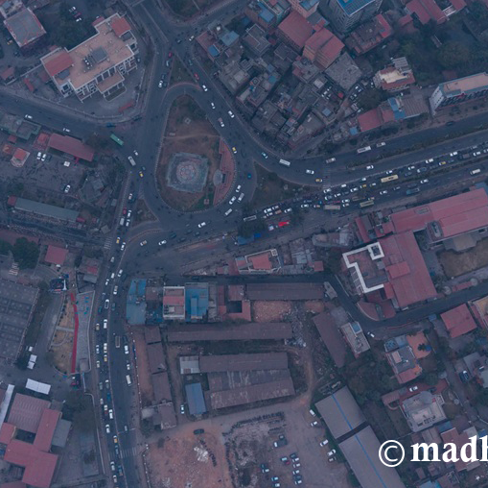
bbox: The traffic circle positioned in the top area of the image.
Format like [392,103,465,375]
[155,94,236,213]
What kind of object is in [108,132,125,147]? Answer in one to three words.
vehicle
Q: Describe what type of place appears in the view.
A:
residential area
